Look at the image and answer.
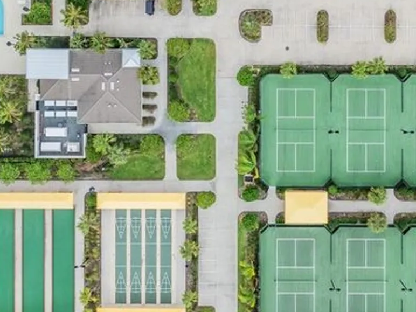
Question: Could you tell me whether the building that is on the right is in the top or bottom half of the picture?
bottom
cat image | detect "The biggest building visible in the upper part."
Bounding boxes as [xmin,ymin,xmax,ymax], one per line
[26,47,142,158]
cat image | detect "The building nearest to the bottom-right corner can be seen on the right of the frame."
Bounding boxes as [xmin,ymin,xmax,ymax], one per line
[284,191,328,223]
